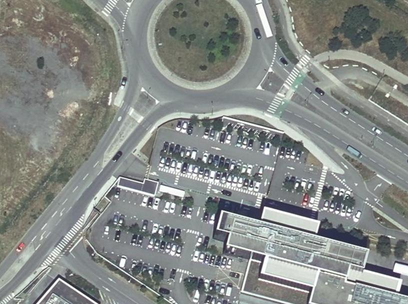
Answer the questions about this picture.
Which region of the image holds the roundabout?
top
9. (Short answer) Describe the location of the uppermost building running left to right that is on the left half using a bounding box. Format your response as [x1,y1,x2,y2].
[118,178,158,196]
